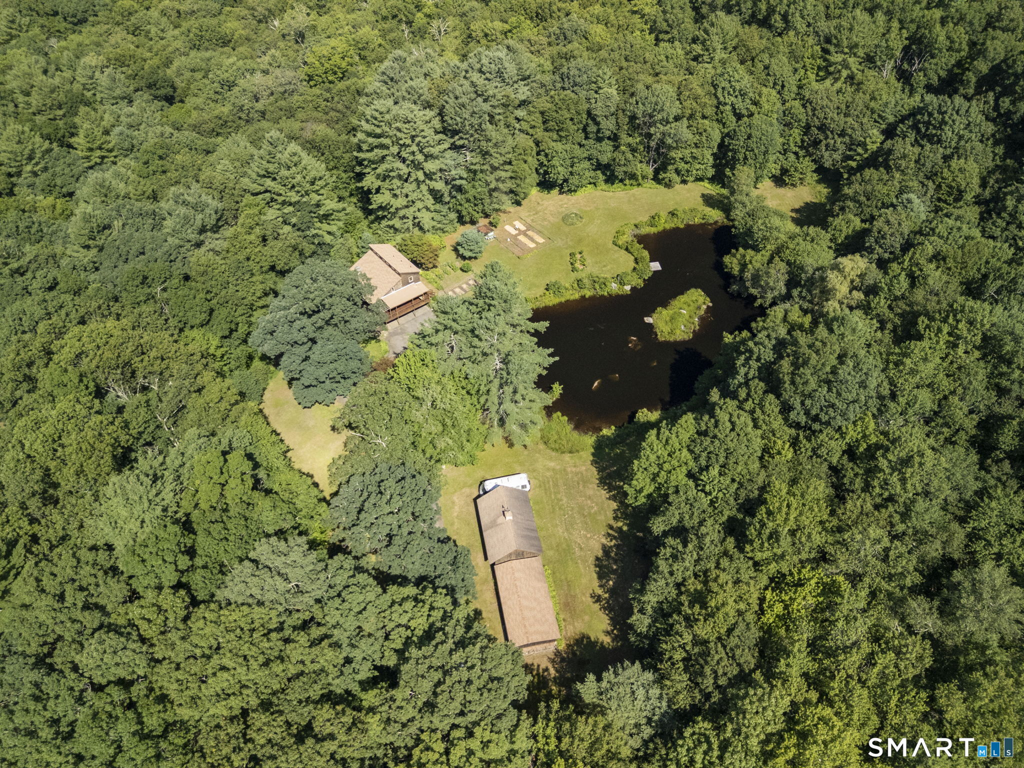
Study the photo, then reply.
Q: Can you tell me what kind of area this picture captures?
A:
forest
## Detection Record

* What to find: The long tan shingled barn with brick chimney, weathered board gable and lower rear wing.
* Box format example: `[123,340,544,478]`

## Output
[476,485,560,653]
